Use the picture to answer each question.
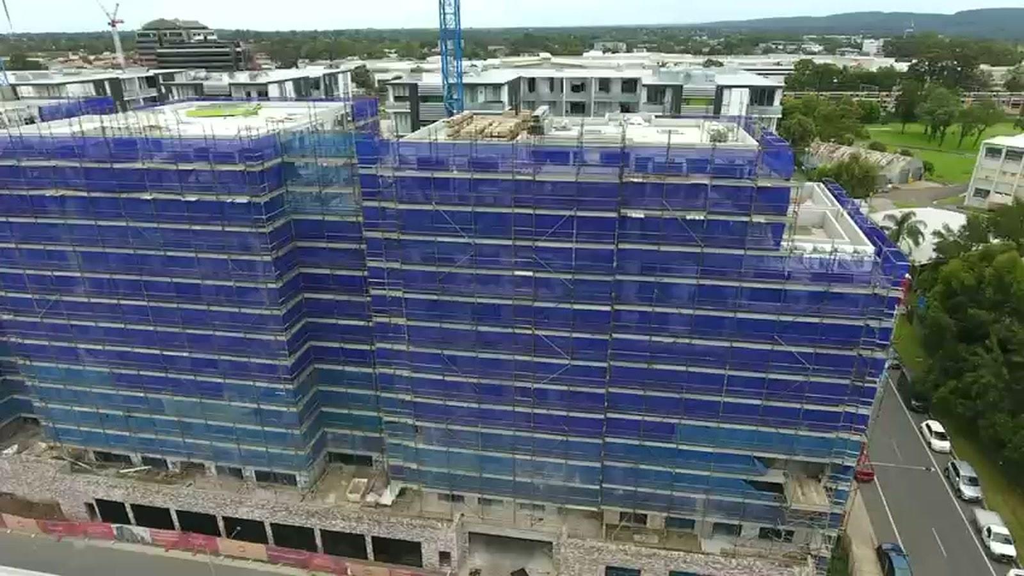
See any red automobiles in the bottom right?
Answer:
No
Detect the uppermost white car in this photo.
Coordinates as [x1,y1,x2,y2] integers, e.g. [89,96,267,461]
[921,423,952,456]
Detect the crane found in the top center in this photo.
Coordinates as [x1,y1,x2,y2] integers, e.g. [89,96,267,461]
[435,0,461,113]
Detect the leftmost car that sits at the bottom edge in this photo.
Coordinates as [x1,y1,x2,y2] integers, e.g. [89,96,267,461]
[874,547,911,576]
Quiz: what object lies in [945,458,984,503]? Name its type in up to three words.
car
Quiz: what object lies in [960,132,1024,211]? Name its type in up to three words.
building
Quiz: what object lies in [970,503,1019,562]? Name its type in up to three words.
truck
